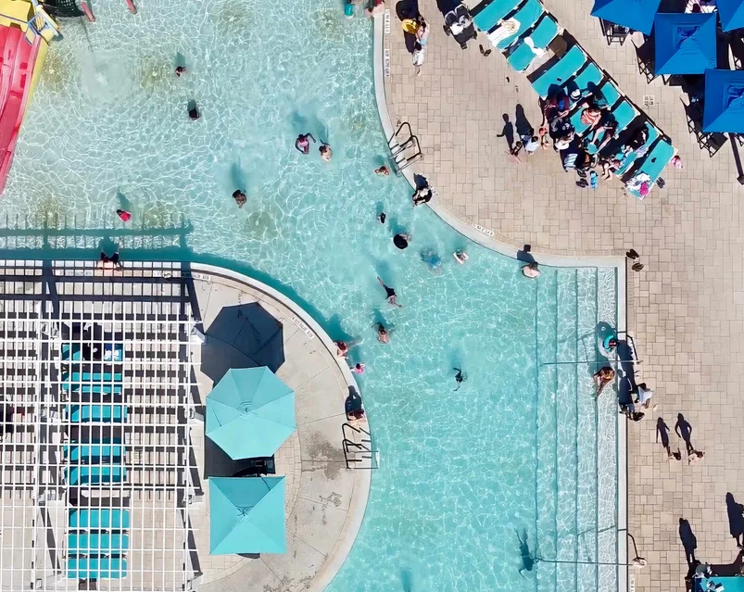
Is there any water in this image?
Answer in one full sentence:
Yes, some water is visible.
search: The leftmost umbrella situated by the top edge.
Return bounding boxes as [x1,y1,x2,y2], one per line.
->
[581,0,659,45]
